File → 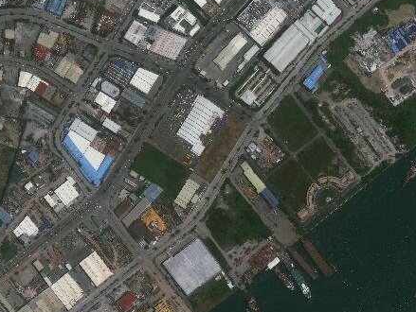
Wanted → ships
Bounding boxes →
[274,266,294,292]
[301,240,335,276]
[400,163,416,187]
[291,268,311,300]
[248,294,261,312]
[288,249,316,280]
